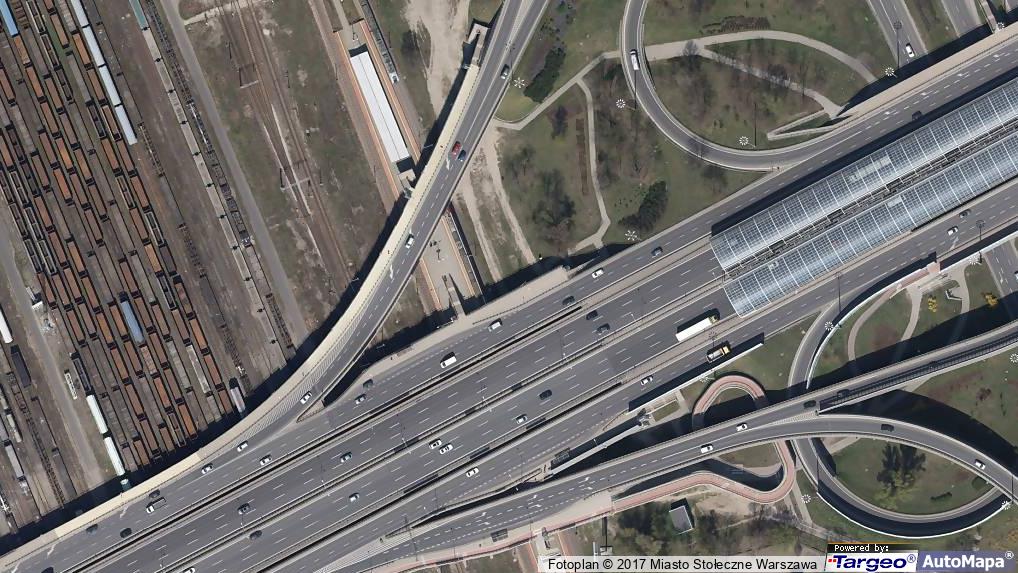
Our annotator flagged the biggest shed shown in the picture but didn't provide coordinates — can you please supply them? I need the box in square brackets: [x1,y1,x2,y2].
[668,505,694,533]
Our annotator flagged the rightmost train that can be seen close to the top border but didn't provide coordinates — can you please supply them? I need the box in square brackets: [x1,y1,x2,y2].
[361,0,401,83]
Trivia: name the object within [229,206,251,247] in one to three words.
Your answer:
rail car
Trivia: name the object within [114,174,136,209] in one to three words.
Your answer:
rail car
